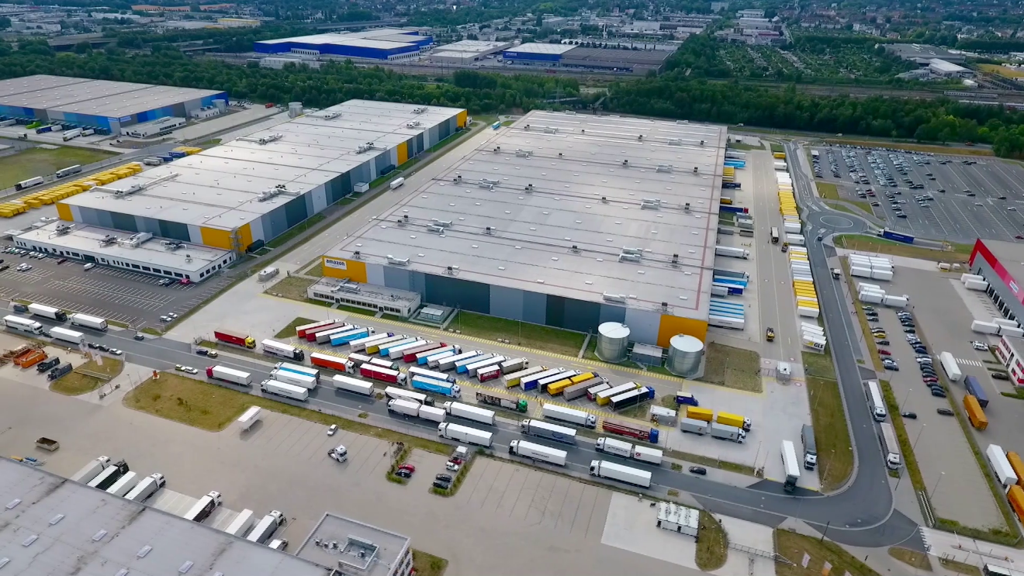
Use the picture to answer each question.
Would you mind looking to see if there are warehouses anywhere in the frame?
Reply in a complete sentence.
Yes, I can see a warehouse in this picture.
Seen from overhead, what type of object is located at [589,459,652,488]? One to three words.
truck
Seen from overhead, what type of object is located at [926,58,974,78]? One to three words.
building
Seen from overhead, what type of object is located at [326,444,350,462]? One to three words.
vehicle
